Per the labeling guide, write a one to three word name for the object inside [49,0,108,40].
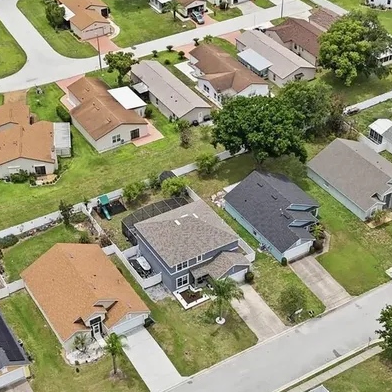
house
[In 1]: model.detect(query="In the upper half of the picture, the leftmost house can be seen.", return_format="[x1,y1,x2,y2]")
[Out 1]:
[0,103,74,179]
